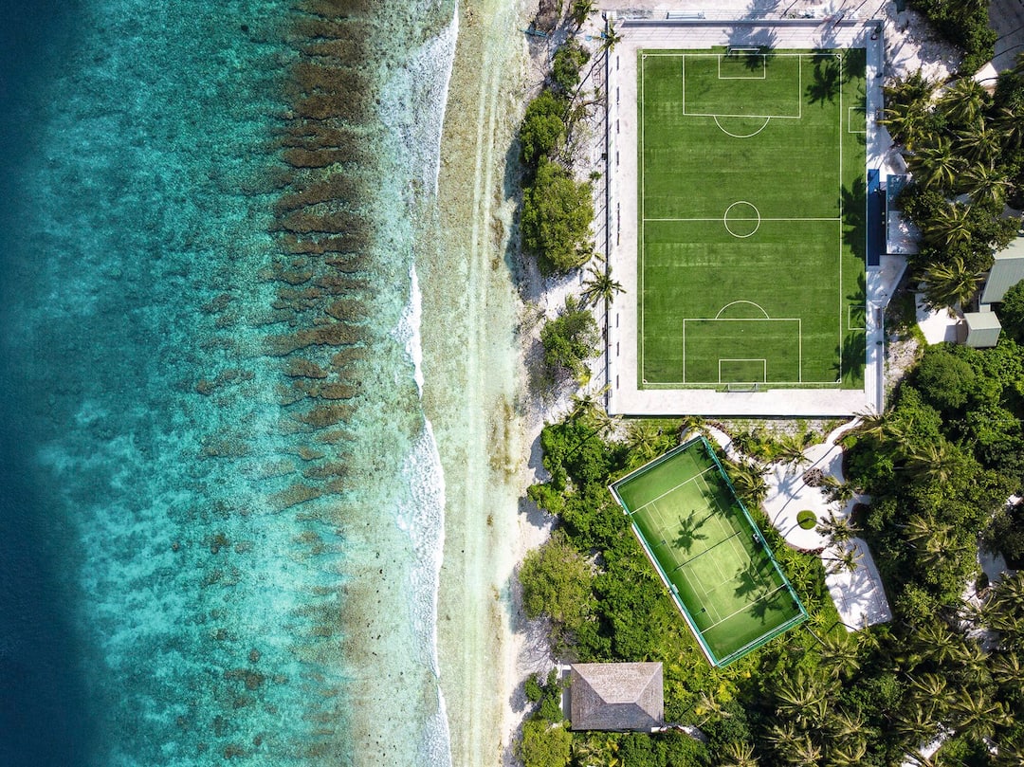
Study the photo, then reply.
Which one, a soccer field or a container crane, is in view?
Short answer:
soccer field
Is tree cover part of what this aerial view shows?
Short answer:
Yes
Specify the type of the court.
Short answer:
tennis court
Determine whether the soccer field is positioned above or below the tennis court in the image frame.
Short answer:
above it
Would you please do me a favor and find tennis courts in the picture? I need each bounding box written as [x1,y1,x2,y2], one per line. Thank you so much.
[614,437,803,663]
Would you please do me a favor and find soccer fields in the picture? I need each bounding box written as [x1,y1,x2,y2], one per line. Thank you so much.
[637,45,866,392]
